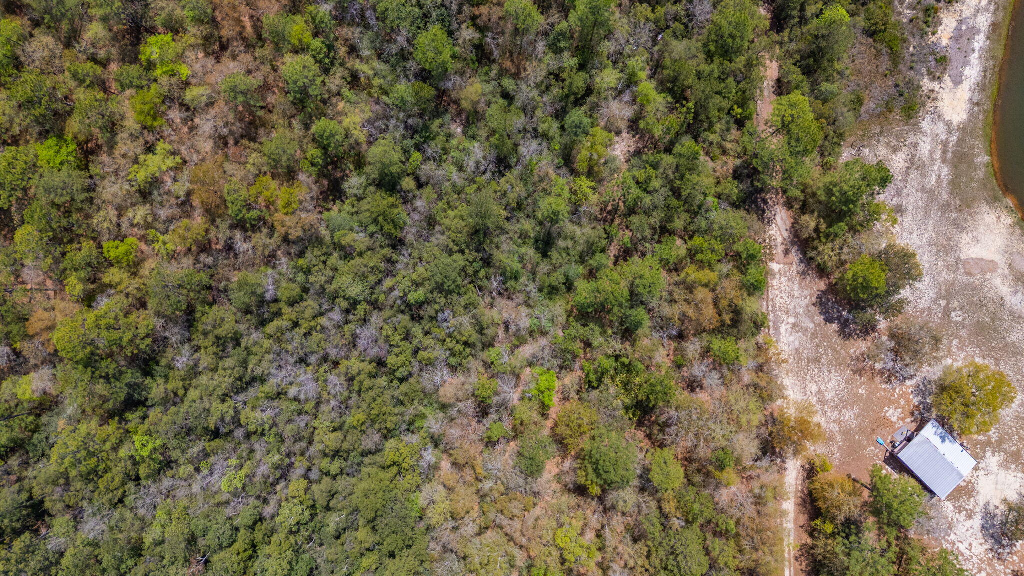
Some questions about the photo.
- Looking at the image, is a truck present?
No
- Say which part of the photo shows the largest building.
bottom right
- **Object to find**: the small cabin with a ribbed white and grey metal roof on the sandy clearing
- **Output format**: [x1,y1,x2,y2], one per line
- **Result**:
[887,419,977,500]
